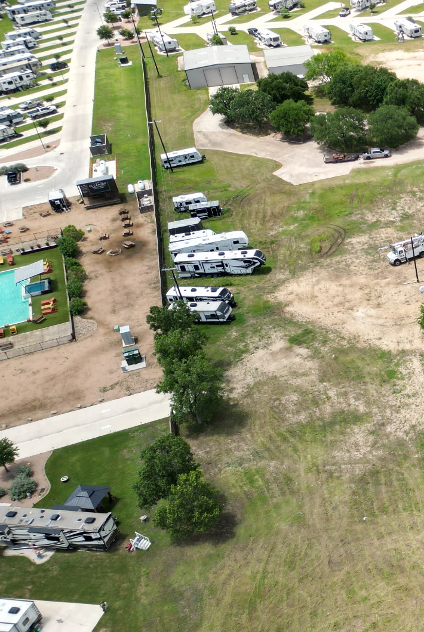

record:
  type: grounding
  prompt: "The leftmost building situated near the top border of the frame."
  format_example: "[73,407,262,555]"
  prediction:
[127,0,159,16]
